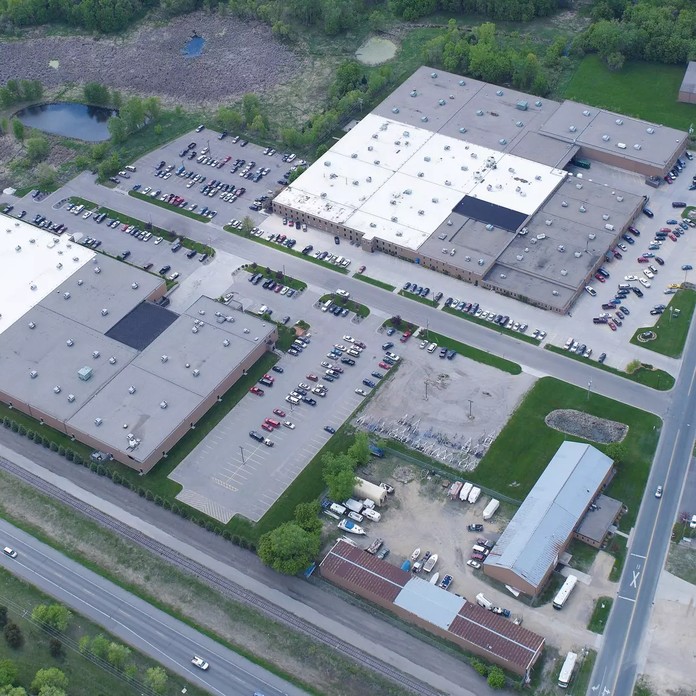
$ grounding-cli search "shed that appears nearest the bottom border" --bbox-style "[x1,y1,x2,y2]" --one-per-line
[316,539,552,681]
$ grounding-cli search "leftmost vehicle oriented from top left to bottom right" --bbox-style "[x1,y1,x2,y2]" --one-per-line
[2,545,18,558]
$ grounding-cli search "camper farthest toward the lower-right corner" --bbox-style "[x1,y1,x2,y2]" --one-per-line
[559,650,577,686]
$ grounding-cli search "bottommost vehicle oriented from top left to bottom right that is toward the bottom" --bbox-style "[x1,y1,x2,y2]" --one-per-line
[189,654,209,670]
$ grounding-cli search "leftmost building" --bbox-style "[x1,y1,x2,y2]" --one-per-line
[0,213,278,476]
